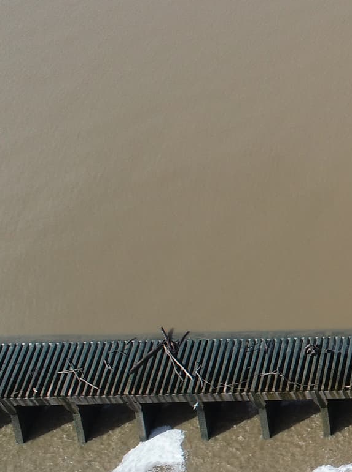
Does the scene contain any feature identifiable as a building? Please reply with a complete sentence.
No, there isn't any building down there.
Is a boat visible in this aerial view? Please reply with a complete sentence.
No, no boat can be seen from above.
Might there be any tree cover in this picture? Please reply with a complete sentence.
No, there's no tree cover in this view.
